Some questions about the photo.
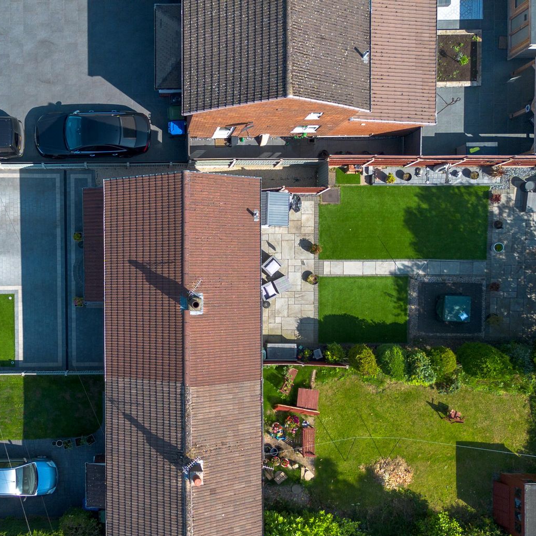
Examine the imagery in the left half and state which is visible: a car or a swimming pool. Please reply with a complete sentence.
The feature located in the left half is a car.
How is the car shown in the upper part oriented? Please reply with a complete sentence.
The car shown in the upper part is laid out from left to right.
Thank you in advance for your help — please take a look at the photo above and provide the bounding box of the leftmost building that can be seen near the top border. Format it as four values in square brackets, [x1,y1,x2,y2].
[153,0,438,139]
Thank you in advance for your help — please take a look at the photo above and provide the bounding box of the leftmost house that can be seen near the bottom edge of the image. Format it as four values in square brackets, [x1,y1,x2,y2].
[83,378,263,536]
